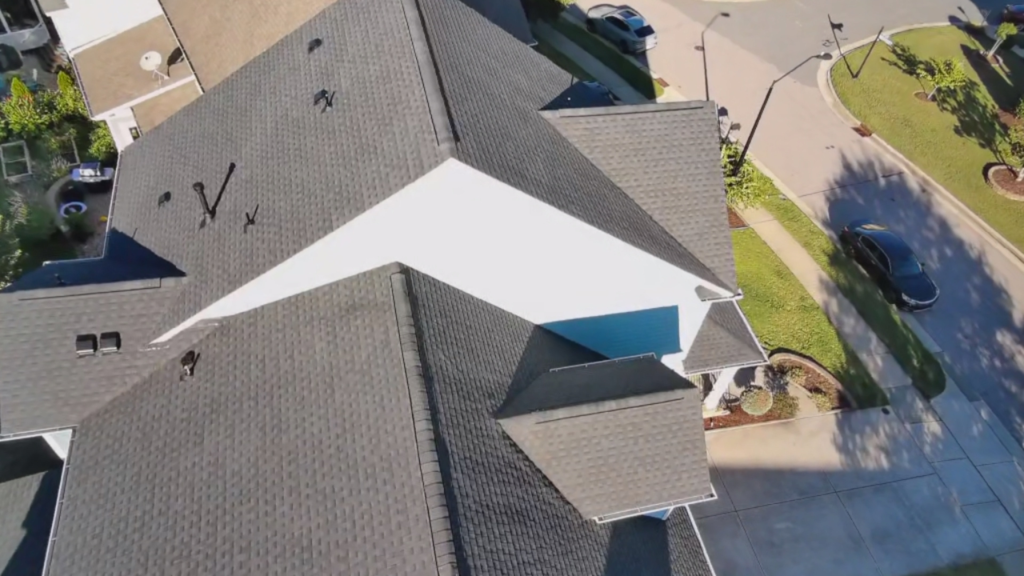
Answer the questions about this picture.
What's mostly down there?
buildings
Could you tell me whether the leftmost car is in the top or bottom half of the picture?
top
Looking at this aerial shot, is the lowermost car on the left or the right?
right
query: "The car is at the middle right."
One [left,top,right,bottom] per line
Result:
[845,217,941,306]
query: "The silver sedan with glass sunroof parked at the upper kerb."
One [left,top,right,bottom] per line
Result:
[581,8,656,53]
